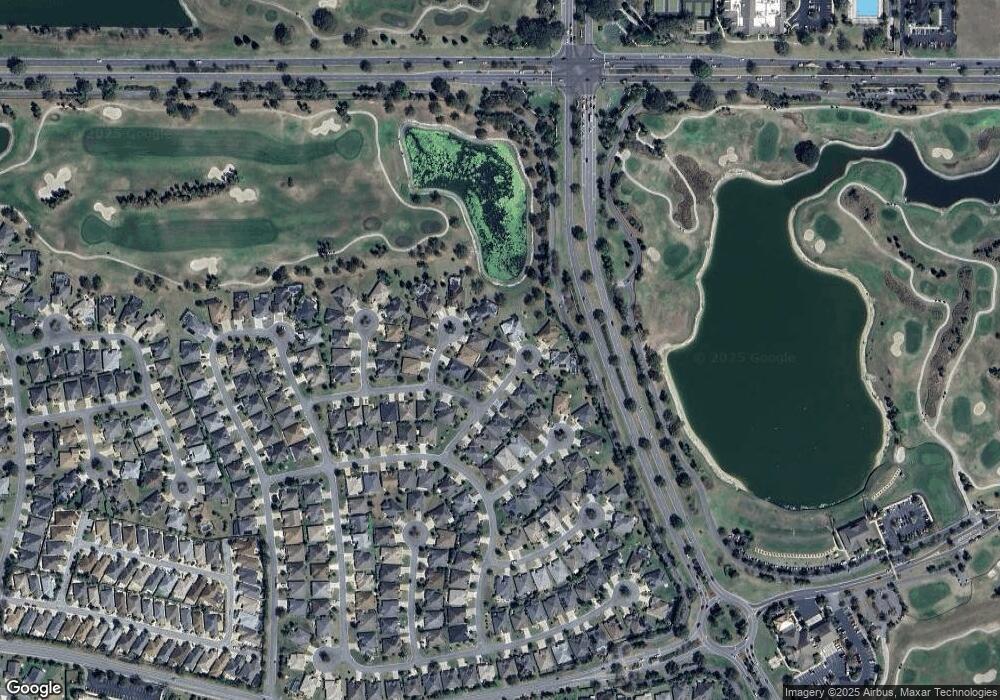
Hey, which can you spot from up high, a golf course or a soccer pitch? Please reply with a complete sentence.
Visible in the photo is a golf course.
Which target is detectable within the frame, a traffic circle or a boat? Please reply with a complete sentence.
I can see a traffic circle in this picture.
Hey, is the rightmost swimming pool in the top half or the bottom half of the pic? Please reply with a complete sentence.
You can find the rightmost swimming pool in the top half.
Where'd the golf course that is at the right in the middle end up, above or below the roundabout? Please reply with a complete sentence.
You can see the golf course that is at the right in the middle above the roundabout in the frame.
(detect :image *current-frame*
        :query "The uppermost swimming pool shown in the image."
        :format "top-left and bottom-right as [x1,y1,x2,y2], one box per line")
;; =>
[851,0,884,26]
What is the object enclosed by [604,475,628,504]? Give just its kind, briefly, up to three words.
house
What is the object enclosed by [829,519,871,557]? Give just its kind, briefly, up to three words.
building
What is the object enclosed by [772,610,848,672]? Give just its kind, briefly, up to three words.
building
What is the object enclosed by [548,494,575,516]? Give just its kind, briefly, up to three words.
house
